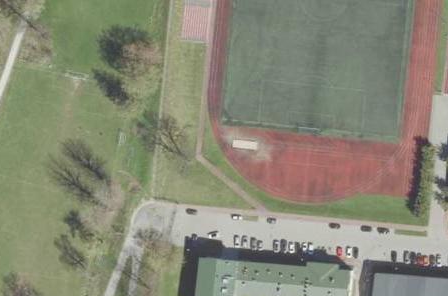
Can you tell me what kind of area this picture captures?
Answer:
sports ground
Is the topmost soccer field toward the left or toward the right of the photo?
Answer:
right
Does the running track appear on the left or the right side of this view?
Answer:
right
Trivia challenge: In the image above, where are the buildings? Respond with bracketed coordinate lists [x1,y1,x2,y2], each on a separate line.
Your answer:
[196,257,355,296]
[373,272,448,296]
